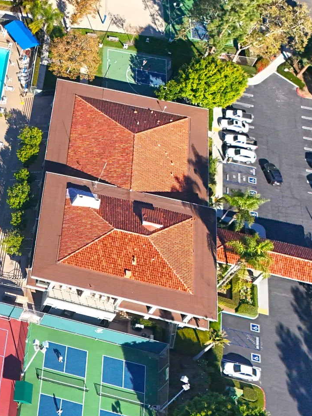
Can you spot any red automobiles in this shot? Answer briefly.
No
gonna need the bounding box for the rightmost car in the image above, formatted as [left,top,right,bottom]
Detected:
[260,163,285,186]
